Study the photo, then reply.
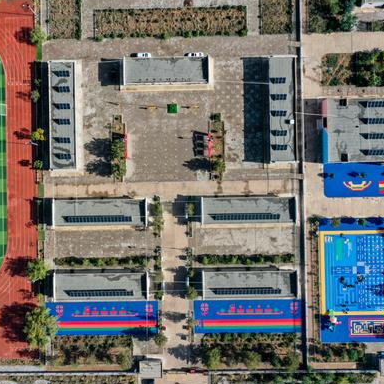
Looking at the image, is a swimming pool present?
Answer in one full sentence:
No, no swimming pool is visible in the scene.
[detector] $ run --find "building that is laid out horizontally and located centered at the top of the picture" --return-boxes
[122,54,209,88]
